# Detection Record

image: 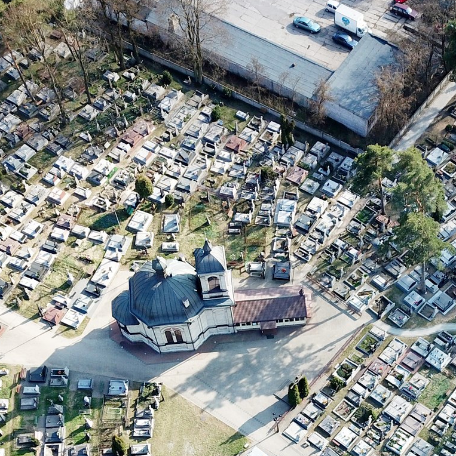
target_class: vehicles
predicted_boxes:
[390,0,415,21]
[293,14,322,33]
[329,3,370,41]
[324,0,345,14]
[330,29,359,49]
